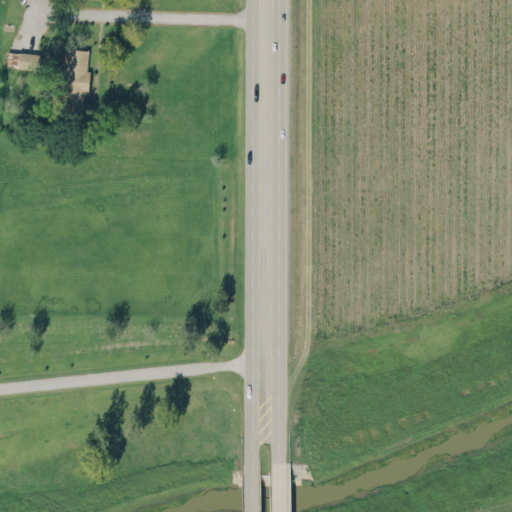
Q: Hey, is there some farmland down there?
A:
Yes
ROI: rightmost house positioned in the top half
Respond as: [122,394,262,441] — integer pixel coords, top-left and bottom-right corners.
[72,50,90,93]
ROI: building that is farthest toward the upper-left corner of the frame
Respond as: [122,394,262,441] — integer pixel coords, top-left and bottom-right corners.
[7,53,40,70]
